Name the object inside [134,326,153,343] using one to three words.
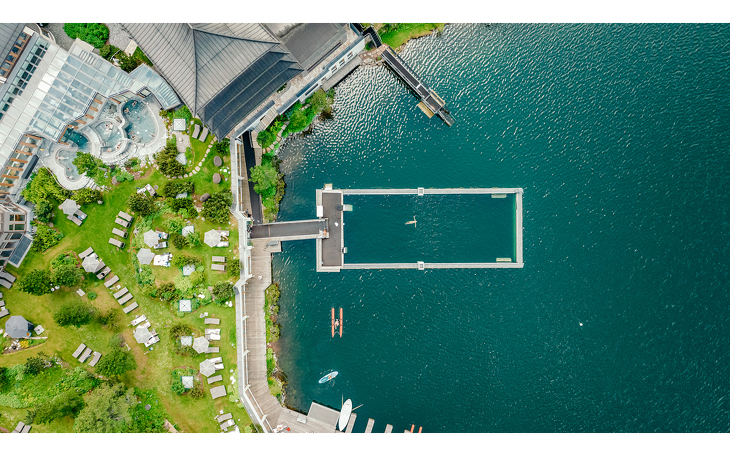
umbrella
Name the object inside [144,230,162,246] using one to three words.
umbrella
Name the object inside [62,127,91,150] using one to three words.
swimming pool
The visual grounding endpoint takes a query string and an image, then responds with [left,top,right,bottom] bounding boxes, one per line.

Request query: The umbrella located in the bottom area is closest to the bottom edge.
[200,359,216,375]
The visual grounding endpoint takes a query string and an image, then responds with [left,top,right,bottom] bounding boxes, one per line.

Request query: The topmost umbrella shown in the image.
[61,199,82,215]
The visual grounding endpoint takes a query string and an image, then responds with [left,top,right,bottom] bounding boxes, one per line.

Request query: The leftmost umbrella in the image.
[6,315,33,338]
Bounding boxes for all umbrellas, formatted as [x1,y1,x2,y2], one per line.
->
[200,359,216,375]
[6,315,33,338]
[193,336,210,353]
[138,249,156,265]
[61,199,82,215]
[205,229,221,248]
[83,255,101,271]
[144,230,162,246]
[134,326,153,343]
